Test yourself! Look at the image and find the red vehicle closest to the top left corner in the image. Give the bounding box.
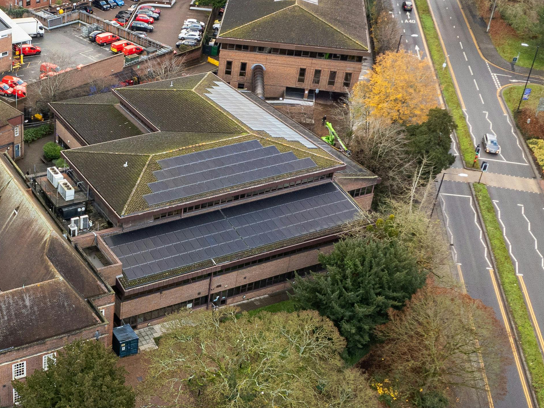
[16,44,42,57]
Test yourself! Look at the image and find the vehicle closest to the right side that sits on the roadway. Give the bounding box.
[482,131,501,155]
